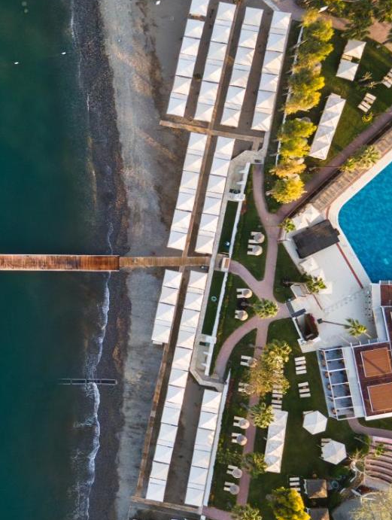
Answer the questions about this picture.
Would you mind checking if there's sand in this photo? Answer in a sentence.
Yes, there's sand in this view.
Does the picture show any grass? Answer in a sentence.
Yes, there is grass in the image.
